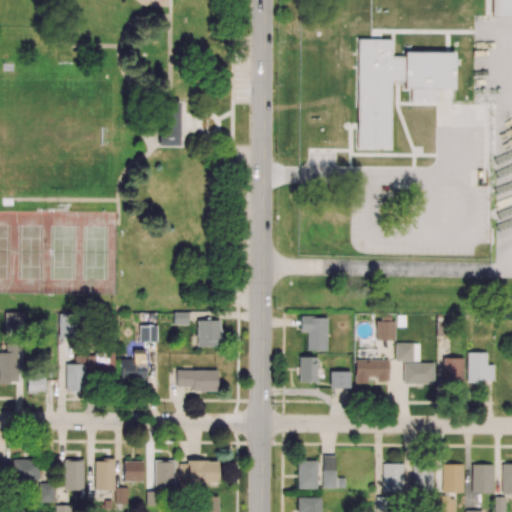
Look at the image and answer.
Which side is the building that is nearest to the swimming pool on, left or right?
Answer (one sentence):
The building that is nearest to the swimming pool is on the right side of the image.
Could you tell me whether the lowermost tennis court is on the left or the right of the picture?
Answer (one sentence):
The lowermost tennis court appears in the left half of the scene.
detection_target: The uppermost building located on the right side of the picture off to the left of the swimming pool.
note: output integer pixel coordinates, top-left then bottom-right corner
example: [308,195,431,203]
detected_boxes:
[302,316,330,352]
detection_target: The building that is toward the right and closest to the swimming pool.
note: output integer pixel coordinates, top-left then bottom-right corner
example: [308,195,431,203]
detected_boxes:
[376,321,396,341]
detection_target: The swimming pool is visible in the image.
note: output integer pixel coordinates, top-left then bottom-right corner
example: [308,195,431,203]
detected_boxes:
[356,316,376,346]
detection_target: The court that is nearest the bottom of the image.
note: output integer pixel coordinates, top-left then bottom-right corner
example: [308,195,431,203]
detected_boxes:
[0,212,116,294]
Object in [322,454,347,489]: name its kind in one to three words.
building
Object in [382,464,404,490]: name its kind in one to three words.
house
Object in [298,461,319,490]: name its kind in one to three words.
house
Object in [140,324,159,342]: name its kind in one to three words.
building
